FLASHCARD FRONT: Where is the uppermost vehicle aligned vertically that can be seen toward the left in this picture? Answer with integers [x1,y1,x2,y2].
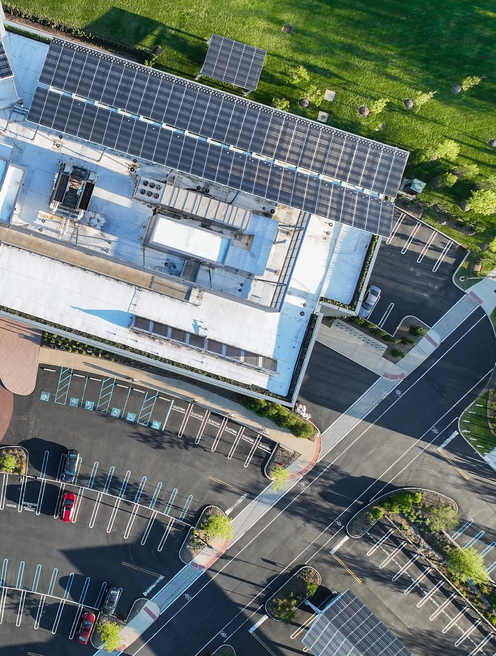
[61,448,79,483]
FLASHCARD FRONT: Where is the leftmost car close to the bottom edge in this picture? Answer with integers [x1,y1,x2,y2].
[76,611,95,645]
